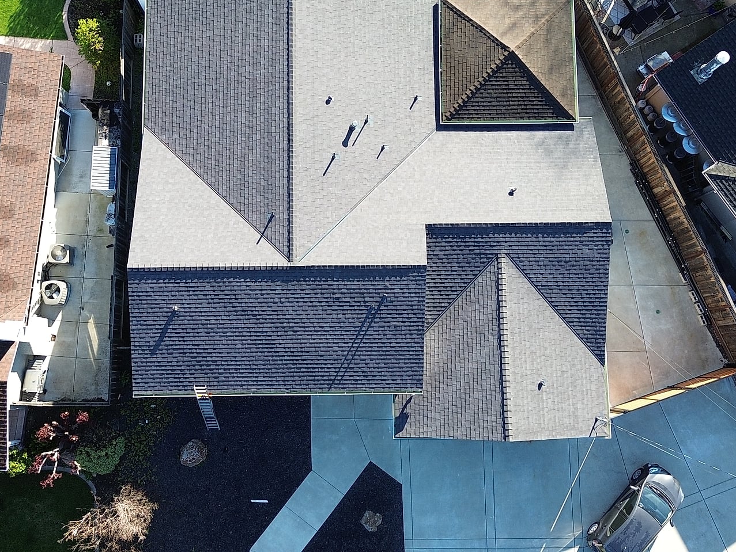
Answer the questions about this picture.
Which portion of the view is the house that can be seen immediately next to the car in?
center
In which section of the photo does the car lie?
bottom right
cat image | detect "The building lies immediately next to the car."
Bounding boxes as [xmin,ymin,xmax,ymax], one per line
[125,0,616,440]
